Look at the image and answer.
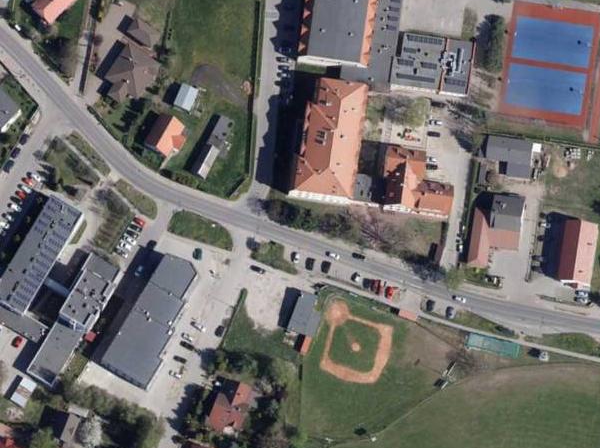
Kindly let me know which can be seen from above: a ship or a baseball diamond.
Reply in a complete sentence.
It is a baseball diamond that can be seen here.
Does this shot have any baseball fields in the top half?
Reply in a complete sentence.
No, I see no baseball field in the top half.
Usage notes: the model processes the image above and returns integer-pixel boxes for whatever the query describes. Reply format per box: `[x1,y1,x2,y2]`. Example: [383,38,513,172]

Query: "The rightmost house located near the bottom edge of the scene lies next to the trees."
[207,380,254,435]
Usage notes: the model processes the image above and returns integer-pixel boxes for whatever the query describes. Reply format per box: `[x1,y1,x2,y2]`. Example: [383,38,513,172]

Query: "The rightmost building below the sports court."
[557,219,598,287]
